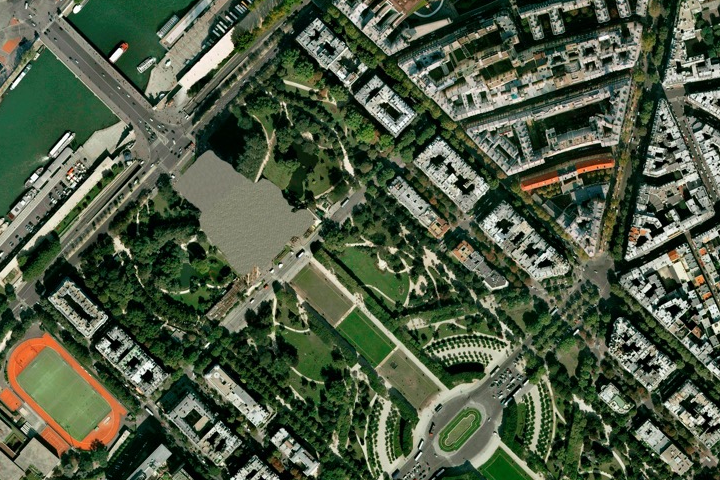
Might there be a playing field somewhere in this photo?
Yes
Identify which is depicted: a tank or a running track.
running track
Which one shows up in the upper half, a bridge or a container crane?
bridge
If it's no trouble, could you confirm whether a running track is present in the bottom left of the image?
Yes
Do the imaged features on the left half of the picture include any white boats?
Yes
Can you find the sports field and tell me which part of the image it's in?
bottom left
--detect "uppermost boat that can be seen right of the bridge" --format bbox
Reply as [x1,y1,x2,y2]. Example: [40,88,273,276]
[156,17,178,38]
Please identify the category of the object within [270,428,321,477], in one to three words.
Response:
building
